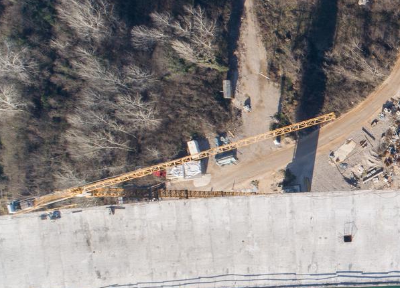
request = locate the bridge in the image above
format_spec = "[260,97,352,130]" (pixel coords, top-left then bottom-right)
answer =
[0,191,400,288]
